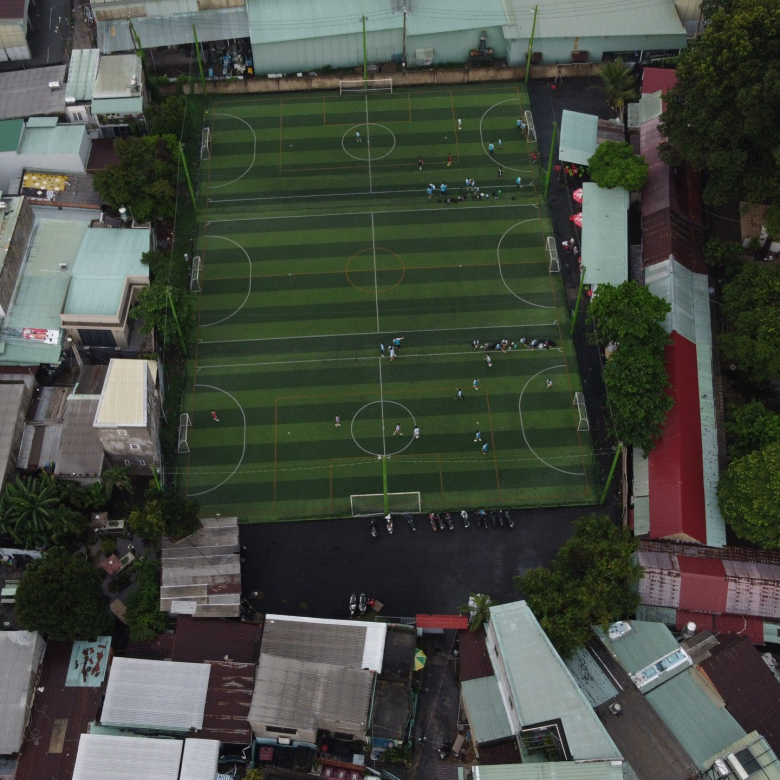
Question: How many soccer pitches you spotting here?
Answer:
4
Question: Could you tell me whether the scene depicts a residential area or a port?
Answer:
residential area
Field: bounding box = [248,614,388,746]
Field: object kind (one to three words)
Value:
house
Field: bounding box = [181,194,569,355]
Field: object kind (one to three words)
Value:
soccer field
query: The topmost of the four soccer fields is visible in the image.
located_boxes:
[193,80,544,212]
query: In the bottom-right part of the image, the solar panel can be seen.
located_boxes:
[734,748,761,776]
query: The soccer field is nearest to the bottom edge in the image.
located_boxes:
[169,335,599,520]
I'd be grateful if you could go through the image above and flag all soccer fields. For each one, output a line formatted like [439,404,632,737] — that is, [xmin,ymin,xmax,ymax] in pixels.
[169,335,599,520]
[181,194,569,355]
[187,88,587,513]
[193,80,544,212]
